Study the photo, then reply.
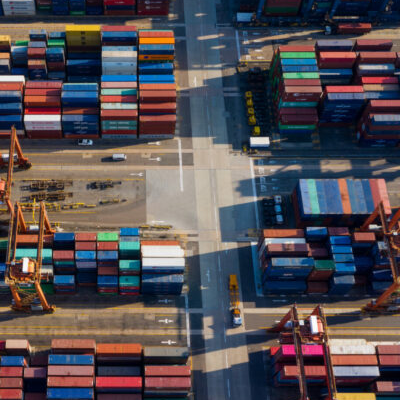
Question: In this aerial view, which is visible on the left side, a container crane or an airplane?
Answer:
container crane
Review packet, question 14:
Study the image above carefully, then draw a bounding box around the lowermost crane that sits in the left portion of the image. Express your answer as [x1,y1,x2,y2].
[5,202,56,311]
